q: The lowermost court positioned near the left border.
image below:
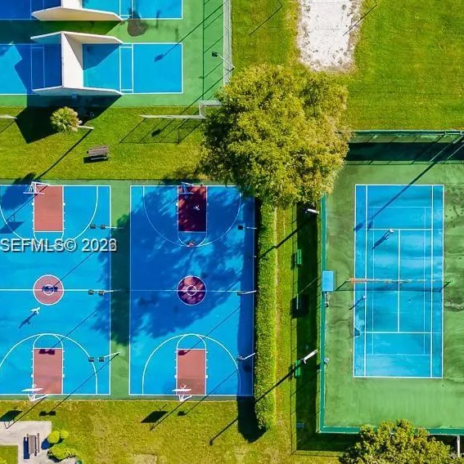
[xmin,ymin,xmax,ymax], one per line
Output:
[0,185,111,396]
